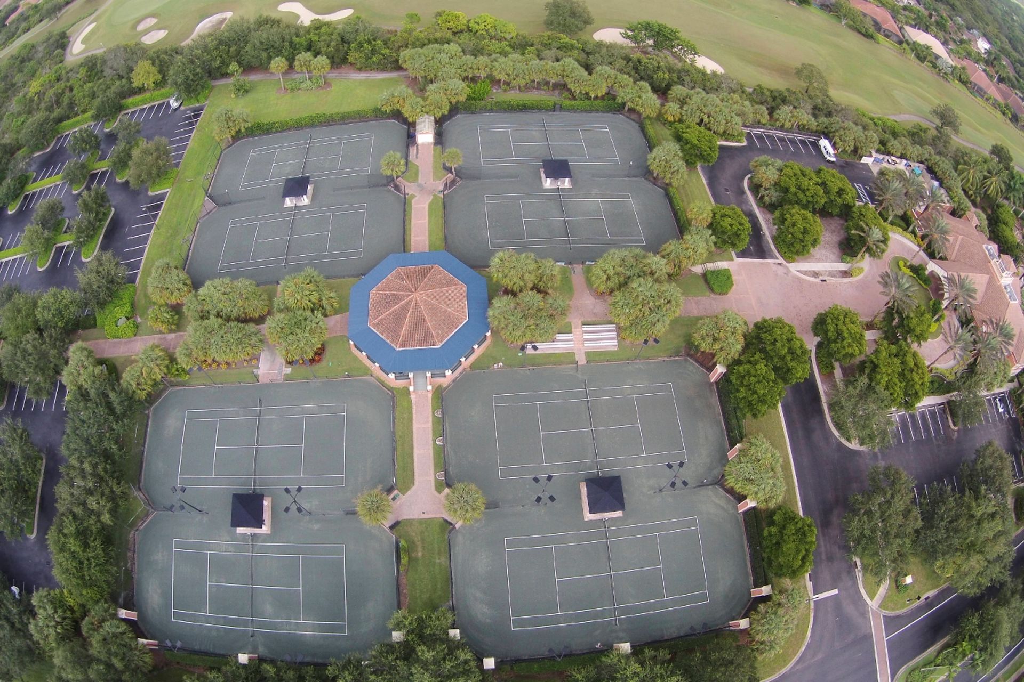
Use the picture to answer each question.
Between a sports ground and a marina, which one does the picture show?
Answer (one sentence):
The picture captures a sports ground.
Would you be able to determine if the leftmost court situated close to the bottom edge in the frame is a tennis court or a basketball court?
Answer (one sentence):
In the photo, the leftmost court situated close to the bottom edge shows up as a tennis court.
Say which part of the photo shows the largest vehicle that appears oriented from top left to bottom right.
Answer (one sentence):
The largest vehicle that appears oriented from top left to bottom right appears toward the top right of the photo.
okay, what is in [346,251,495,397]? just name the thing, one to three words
building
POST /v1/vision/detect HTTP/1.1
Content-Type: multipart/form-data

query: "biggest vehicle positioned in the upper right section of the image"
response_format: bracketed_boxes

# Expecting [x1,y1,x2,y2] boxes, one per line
[818,134,838,158]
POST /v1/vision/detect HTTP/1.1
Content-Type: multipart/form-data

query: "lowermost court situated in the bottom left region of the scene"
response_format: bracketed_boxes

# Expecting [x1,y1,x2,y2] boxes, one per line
[133,512,400,663]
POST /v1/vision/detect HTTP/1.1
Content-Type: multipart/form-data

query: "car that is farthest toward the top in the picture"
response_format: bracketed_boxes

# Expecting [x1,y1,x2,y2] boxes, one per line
[168,94,181,109]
